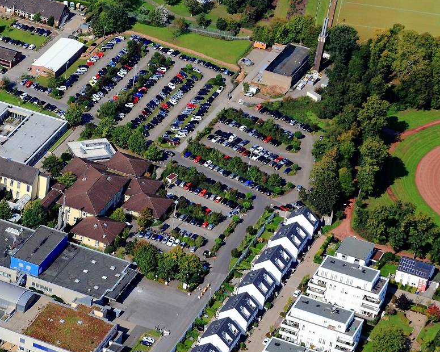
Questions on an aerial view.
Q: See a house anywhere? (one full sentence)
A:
Yes, a house appears in the view.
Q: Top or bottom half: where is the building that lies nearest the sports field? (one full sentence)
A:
The building that lies nearest the sports field is in the top half of the image.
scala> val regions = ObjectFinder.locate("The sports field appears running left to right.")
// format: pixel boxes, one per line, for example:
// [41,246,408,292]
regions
[335,0,440,39]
